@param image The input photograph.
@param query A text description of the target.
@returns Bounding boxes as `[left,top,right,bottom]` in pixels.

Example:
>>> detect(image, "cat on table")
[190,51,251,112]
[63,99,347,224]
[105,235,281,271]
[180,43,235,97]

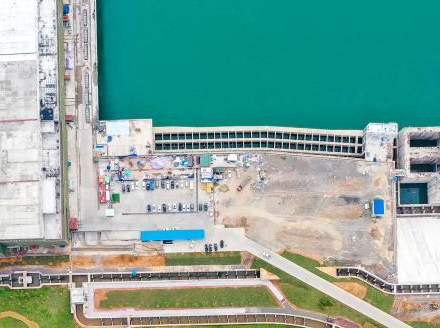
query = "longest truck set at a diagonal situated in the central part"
[229,173,252,199]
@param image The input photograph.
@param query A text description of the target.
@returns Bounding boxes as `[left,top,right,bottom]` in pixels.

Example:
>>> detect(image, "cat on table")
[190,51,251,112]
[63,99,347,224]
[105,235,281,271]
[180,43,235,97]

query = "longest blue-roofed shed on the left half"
[141,229,204,241]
